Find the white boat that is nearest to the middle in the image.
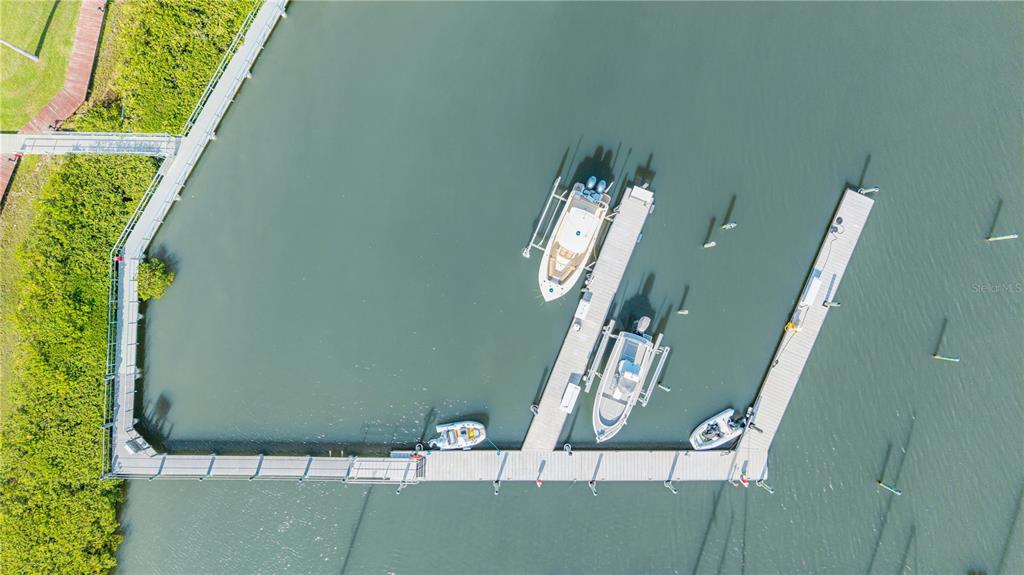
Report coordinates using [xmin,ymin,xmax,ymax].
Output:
[540,178,610,302]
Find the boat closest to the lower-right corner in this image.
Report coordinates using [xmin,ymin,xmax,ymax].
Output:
[690,407,746,445]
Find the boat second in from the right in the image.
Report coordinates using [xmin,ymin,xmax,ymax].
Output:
[592,320,651,443]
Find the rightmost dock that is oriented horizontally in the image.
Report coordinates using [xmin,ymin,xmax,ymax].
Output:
[389,442,766,489]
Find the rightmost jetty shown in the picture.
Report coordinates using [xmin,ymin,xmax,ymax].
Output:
[735,185,875,482]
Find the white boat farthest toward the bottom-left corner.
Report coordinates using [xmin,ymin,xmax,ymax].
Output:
[419,422,488,449]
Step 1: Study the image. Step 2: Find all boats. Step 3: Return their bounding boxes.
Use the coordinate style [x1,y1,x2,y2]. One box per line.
[540,178,610,302]
[592,320,651,443]
[690,407,746,445]
[419,422,488,449]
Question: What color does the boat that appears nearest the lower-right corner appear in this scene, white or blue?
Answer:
white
